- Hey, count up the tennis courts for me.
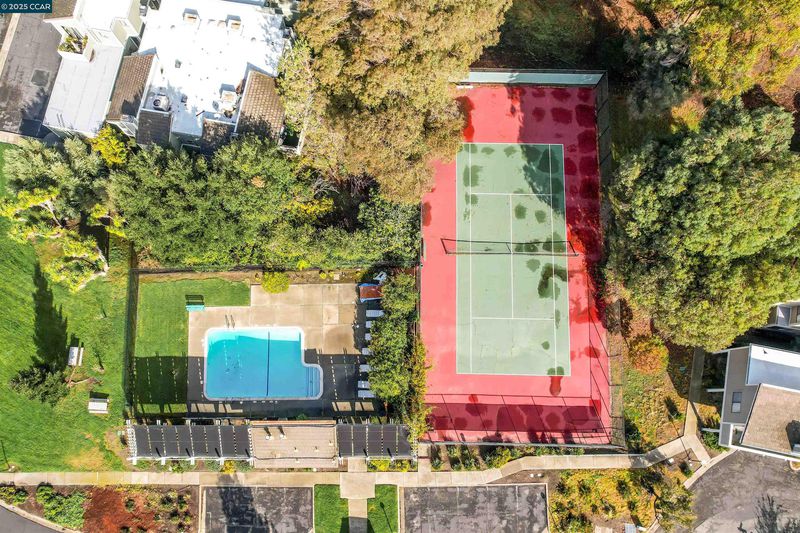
1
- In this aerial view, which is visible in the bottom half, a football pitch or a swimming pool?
swimming pool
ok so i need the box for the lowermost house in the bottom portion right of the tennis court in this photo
[701,347,800,462]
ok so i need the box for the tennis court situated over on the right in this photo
[417,84,609,446]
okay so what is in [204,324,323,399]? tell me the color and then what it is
blue swimming pool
